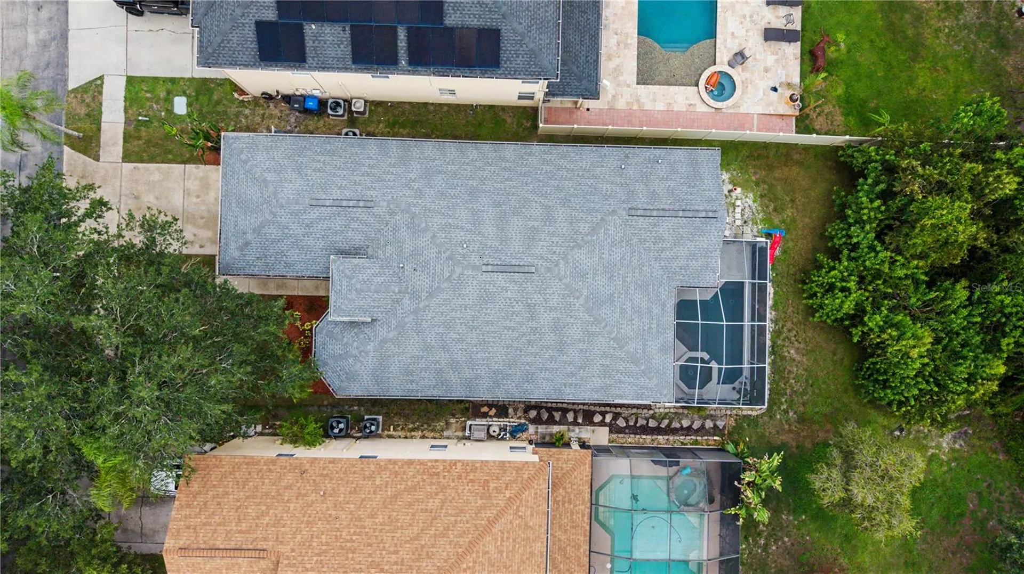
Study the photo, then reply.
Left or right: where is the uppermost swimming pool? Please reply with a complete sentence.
The uppermost swimming pool sits on the right side.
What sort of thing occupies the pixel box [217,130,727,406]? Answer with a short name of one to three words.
house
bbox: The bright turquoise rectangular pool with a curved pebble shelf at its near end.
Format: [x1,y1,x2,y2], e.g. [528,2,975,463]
[636,0,718,86]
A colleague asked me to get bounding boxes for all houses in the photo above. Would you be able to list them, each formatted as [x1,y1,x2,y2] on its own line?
[162,437,592,574]
[188,0,609,109]
[217,130,727,406]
